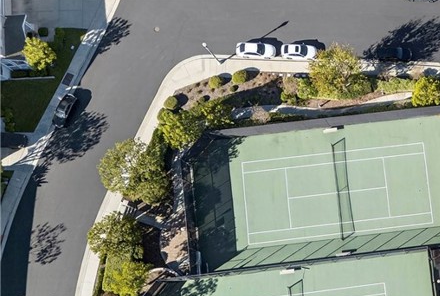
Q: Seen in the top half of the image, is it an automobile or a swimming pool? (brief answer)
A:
automobile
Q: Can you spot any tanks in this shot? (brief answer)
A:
No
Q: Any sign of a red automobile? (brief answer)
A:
No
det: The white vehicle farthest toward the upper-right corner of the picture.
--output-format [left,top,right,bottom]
[280,41,317,59]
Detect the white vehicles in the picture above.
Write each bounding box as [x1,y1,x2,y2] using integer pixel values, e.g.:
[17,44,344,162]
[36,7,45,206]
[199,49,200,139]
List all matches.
[237,40,274,58]
[280,41,317,59]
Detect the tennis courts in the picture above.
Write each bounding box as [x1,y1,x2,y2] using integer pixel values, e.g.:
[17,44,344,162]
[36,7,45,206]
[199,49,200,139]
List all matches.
[154,246,432,296]
[193,114,440,276]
